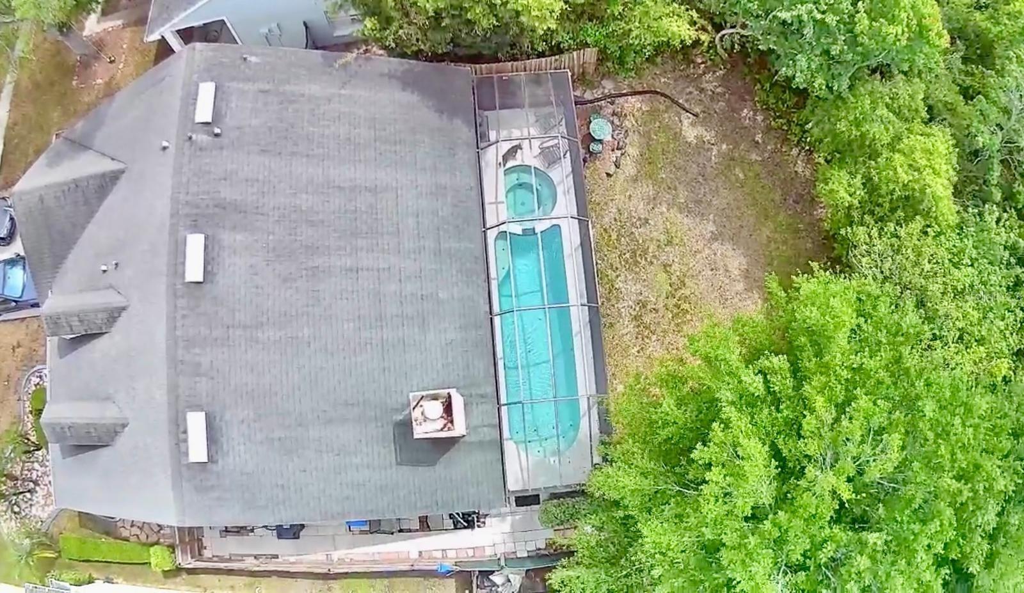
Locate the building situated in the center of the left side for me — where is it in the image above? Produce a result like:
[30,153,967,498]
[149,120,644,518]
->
[11,43,512,527]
